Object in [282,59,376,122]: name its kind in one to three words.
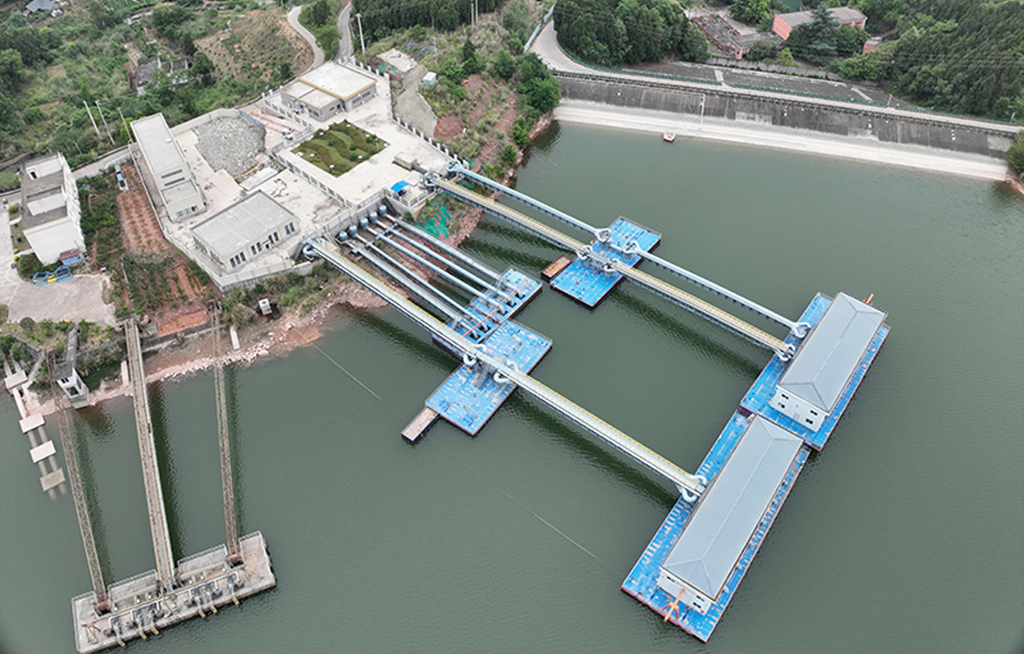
building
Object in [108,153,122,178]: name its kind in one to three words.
vehicle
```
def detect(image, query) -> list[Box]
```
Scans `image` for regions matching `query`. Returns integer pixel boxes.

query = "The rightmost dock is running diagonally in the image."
[550,213,661,311]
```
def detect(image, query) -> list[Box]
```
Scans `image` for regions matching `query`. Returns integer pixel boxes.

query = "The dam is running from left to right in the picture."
[548,55,1024,184]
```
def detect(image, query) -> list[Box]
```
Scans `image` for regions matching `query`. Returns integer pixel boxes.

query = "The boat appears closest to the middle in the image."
[542,256,571,278]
